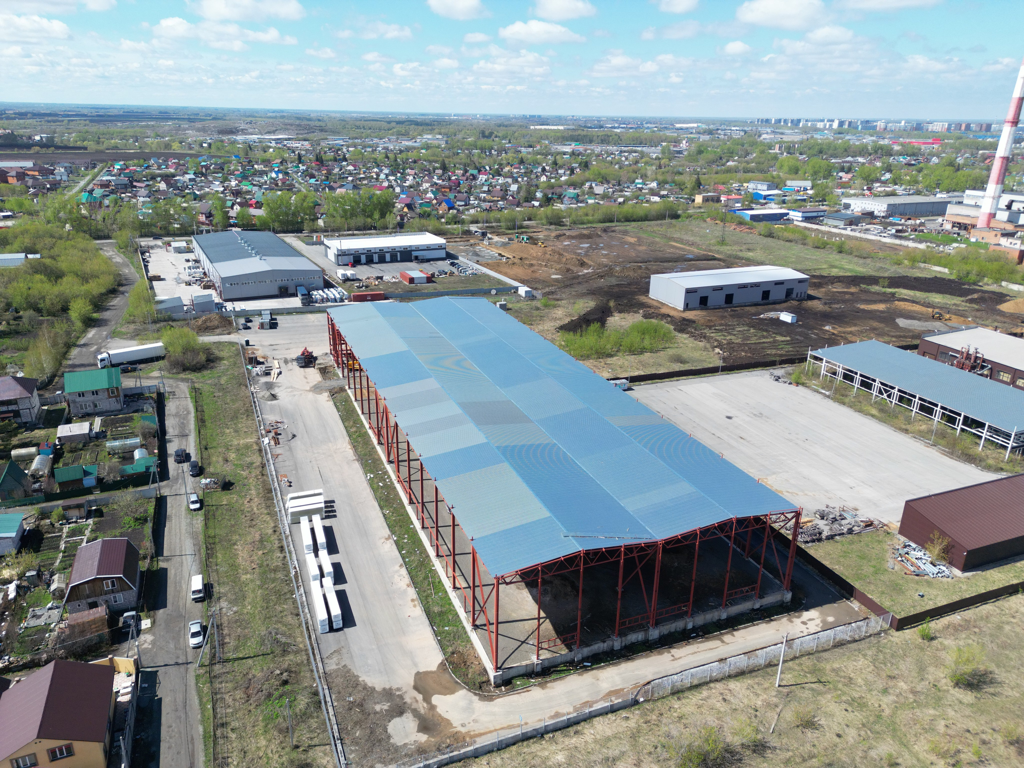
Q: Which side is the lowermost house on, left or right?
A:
left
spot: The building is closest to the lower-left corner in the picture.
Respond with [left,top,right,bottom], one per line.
[0,642,113,768]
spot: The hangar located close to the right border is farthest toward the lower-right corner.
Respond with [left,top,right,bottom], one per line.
[894,467,1024,577]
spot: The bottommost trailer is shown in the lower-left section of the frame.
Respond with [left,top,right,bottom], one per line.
[139,669,165,708]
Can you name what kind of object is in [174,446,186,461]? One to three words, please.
vehicle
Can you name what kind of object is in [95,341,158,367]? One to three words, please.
truck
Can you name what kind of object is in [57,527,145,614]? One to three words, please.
house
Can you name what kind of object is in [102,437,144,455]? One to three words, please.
greenhouse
